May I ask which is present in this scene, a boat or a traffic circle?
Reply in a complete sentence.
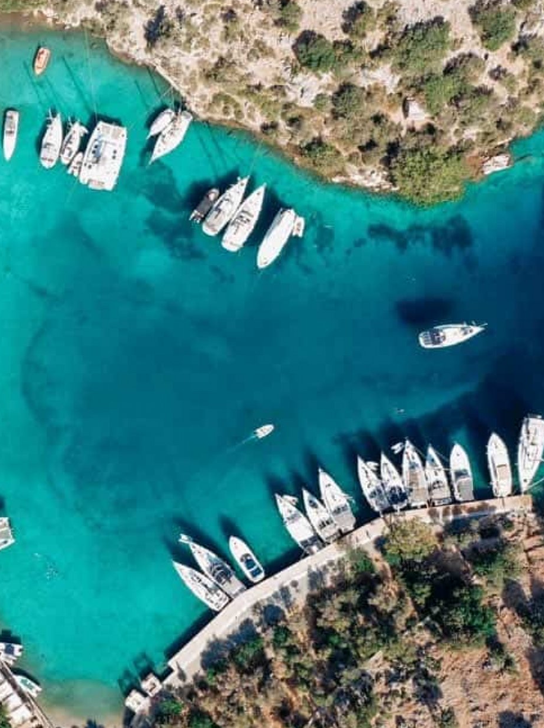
The image shows a boat.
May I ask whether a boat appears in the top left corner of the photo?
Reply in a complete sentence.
Yes, a boat shows up in the top left corner of the photo.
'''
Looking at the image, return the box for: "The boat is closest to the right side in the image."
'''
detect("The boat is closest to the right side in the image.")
[513,414,544,494]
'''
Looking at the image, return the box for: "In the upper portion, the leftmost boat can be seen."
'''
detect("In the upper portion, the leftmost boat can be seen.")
[1,108,18,160]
